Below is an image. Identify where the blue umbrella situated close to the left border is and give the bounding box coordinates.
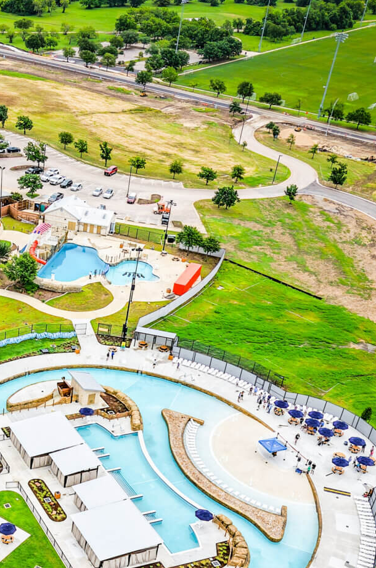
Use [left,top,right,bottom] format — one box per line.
[0,523,15,537]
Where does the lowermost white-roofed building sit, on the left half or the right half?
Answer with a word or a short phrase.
left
